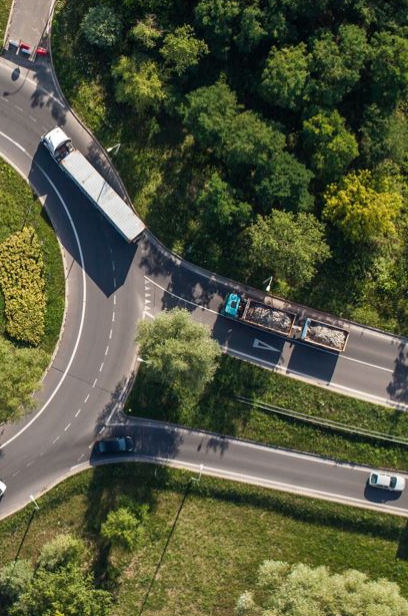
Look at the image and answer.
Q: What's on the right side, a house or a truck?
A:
truck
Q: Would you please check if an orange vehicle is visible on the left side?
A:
No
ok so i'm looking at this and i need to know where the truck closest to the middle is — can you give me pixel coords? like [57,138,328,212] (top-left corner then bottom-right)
[221,293,350,352]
